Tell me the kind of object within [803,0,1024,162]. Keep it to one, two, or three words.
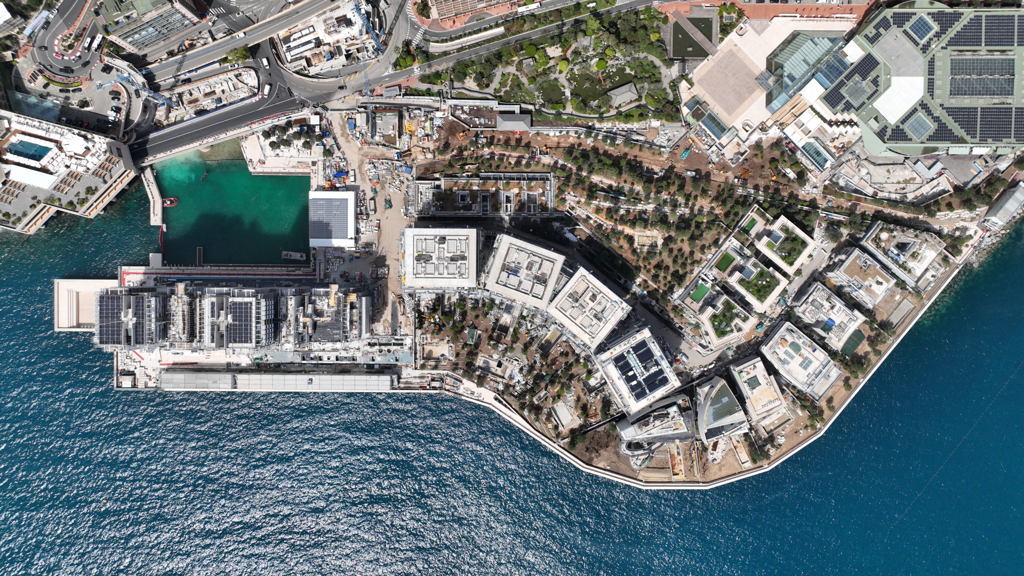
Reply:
building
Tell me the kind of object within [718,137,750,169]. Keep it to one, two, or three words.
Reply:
shed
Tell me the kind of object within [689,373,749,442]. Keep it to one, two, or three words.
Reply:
house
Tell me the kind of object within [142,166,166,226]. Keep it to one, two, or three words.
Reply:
pier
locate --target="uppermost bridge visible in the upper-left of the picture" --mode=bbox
[139,0,349,83]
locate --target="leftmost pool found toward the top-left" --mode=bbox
[4,140,50,161]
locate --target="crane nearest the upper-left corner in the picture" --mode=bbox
[91,32,251,106]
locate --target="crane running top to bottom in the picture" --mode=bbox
[351,0,387,147]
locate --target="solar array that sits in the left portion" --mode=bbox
[310,198,348,239]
